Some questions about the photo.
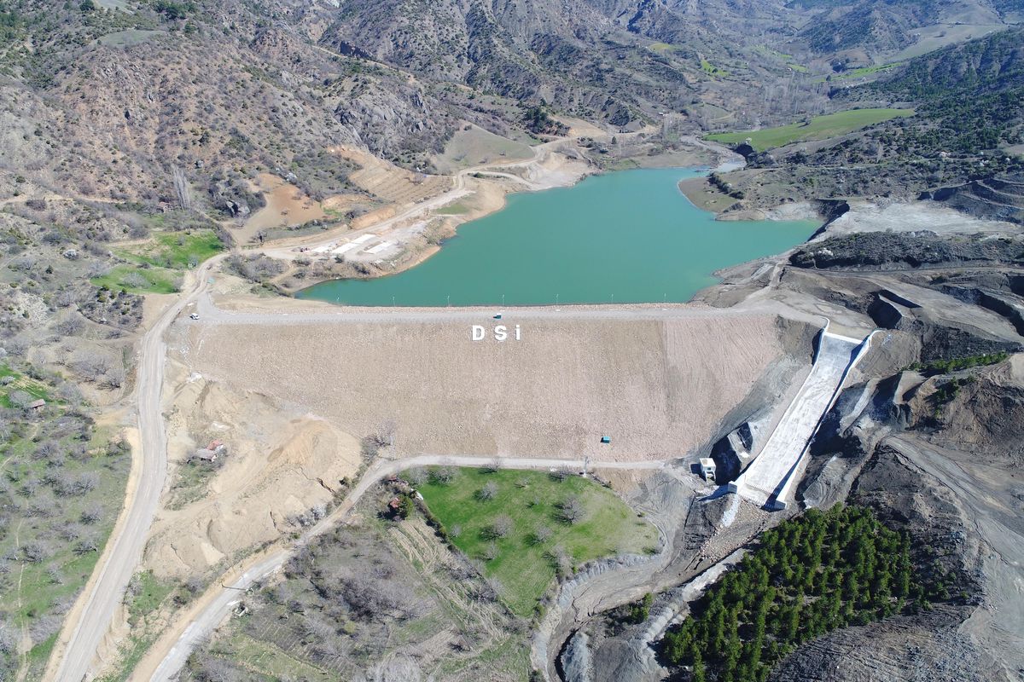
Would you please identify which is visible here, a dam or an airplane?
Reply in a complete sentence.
It is a dam that can be seen here.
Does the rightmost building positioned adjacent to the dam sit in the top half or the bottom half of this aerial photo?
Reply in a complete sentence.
The rightmost building positioned adjacent to the dam sits in the bottom half of the picture.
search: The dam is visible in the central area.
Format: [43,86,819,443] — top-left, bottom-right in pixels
[181,304,781,465]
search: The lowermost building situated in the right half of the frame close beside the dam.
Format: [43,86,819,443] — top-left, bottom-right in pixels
[699,455,720,484]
